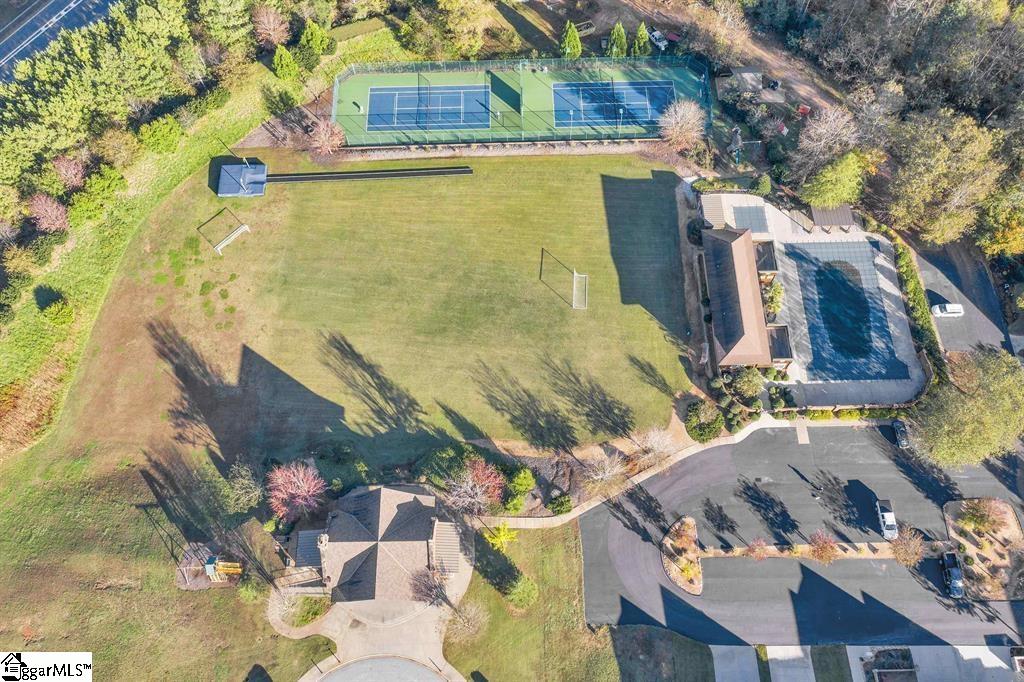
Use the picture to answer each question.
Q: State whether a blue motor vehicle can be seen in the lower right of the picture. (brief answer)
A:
Yes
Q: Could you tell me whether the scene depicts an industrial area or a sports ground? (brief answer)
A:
sports ground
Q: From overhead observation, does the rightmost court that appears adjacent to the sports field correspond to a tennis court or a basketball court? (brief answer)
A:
tennis court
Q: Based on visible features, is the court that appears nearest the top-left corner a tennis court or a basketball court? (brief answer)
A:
tennis court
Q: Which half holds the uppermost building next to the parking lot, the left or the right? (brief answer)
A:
right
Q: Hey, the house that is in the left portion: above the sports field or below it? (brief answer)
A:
below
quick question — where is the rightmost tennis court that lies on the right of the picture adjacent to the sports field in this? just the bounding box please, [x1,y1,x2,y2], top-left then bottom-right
[522,67,712,141]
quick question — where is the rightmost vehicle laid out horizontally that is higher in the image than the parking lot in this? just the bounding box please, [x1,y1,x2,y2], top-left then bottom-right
[929,302,970,318]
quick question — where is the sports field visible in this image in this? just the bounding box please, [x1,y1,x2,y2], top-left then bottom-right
[62,148,691,448]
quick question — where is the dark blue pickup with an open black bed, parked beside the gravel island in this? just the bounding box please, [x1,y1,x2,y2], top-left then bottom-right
[943,554,968,600]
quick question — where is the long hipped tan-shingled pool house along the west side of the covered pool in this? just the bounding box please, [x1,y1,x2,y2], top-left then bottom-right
[698,196,793,370]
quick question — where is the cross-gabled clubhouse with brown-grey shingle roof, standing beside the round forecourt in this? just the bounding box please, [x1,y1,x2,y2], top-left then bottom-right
[288,483,461,607]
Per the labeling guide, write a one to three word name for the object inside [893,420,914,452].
car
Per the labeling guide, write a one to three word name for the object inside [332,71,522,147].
tennis court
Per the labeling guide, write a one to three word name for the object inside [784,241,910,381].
swimming pool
